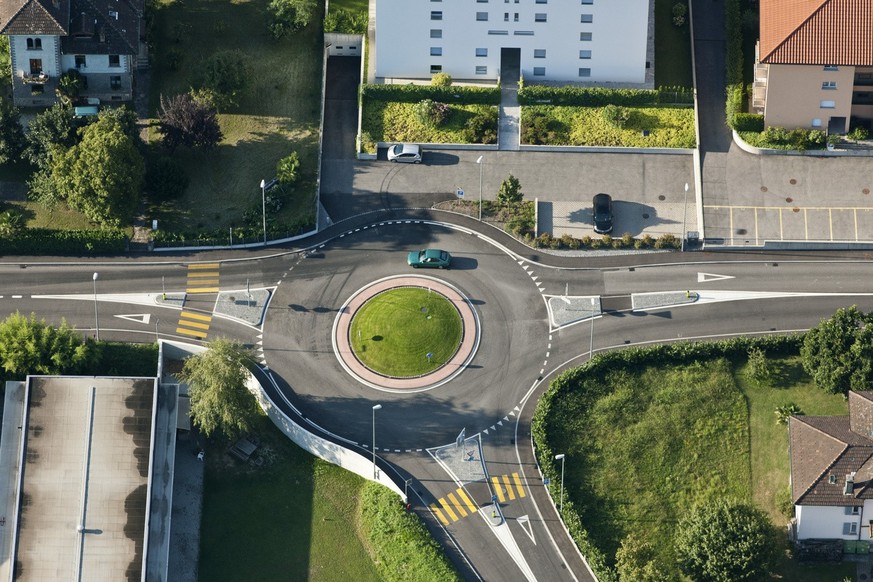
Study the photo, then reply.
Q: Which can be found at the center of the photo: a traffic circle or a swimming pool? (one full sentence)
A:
What appears at the center of the photo is a traffic circle.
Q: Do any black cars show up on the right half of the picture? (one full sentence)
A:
Yes, the scene does show a black car on the right half of the picture.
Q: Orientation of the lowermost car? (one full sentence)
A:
From this overhead view, the lowermost car appears to run horizontally.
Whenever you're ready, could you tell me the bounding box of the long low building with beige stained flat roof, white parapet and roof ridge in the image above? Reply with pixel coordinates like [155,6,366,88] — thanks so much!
[0,374,179,582]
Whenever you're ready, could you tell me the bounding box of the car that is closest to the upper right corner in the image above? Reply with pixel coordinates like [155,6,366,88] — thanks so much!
[593,193,614,233]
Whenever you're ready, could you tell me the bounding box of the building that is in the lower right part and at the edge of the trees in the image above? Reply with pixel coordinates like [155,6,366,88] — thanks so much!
[789,395,873,546]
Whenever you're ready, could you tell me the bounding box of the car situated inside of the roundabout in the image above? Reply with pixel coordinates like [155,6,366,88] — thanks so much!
[408,248,451,268]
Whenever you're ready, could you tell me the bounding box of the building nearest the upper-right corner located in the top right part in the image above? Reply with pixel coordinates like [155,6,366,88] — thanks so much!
[750,0,873,130]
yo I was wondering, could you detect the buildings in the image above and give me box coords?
[789,395,873,546]
[376,0,650,84]
[0,374,179,582]
[326,32,361,55]
[750,0,873,130]
[0,0,148,106]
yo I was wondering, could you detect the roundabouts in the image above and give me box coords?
[256,221,552,452]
